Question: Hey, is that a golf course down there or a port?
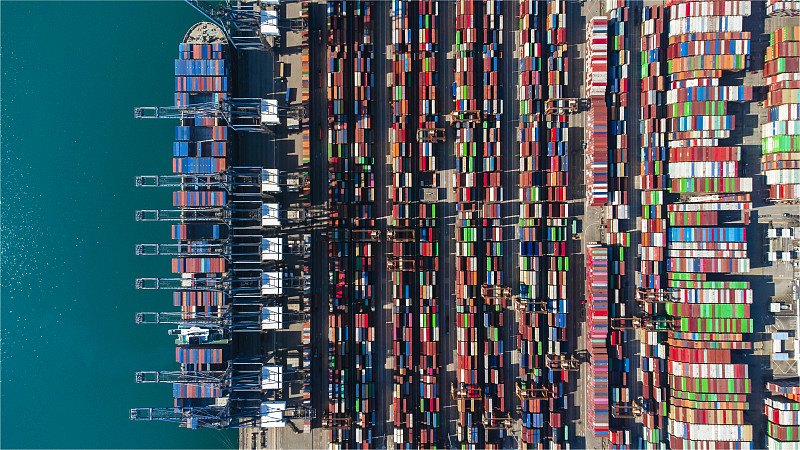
port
